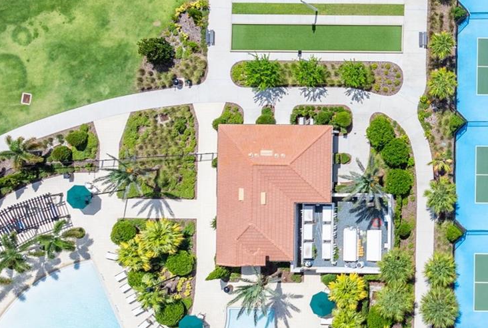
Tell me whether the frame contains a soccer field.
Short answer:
No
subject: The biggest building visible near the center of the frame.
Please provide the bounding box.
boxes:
[218,124,333,267]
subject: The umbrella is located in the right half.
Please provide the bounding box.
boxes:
[311,292,335,316]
